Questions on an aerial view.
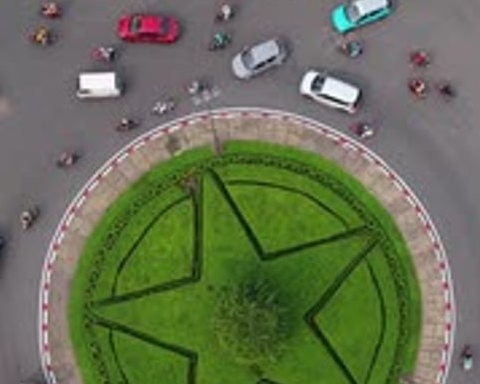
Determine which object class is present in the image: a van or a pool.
van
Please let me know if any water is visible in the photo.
No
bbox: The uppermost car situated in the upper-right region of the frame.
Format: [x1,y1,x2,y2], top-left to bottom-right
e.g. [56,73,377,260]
[331,0,395,35]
